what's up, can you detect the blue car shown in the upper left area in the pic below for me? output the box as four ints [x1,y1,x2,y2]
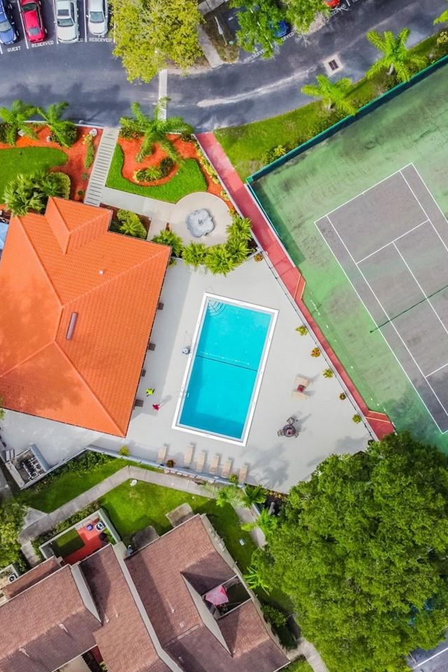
[0,0,21,48]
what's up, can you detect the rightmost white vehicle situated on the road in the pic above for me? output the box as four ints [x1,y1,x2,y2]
[85,0,110,38]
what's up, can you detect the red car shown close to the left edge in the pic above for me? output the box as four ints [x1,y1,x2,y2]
[20,0,47,43]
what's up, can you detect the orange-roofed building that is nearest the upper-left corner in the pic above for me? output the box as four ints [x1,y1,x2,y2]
[0,195,172,439]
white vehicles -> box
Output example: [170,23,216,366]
[85,0,110,38]
[52,0,80,46]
